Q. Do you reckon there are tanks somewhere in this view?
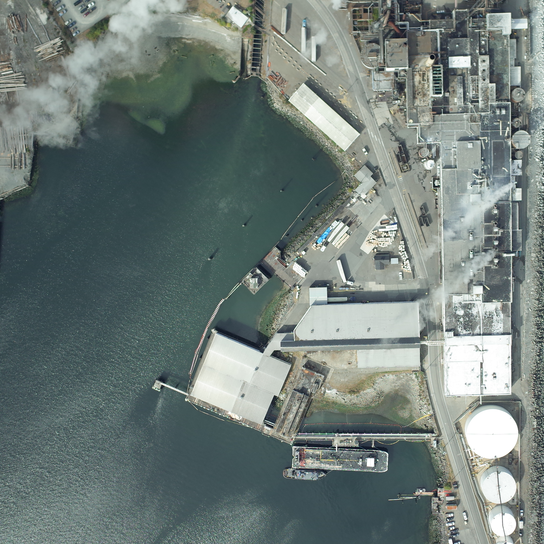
Yes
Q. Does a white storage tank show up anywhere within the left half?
No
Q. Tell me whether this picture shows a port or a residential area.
port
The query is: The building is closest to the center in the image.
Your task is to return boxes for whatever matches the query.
[241,267,271,294]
